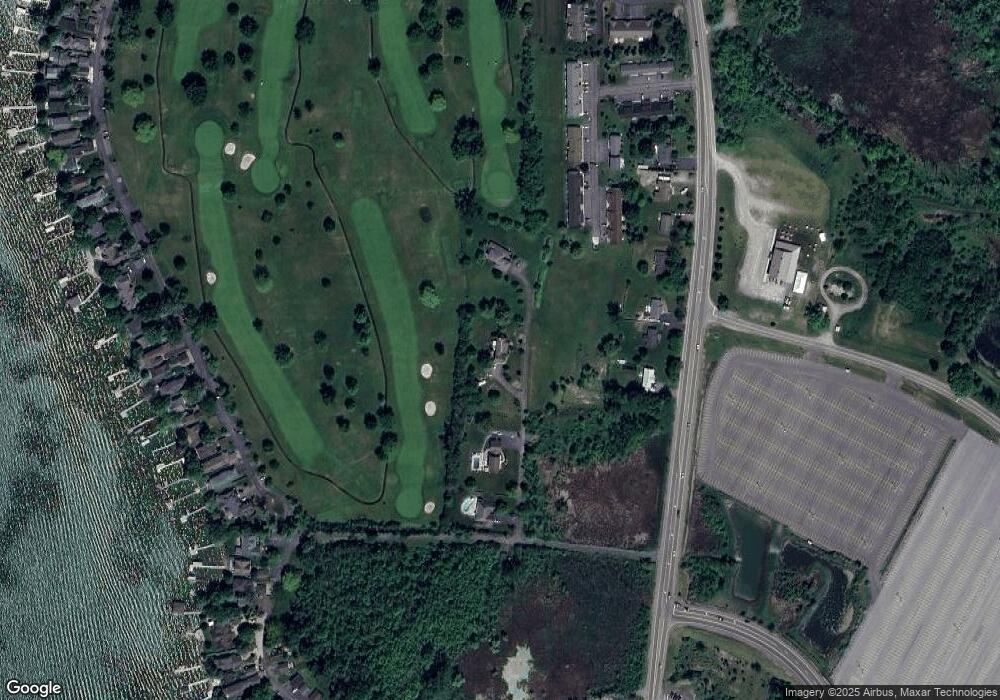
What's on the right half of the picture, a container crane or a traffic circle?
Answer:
traffic circle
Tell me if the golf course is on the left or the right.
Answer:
left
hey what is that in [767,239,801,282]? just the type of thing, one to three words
building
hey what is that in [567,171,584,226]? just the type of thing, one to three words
building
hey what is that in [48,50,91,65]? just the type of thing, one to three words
house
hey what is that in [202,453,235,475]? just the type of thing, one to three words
house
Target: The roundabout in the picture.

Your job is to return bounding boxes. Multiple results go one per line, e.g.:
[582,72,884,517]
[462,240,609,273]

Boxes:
[819,267,867,344]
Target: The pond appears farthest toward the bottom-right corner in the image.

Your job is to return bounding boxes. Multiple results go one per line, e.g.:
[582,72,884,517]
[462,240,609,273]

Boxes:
[782,544,848,647]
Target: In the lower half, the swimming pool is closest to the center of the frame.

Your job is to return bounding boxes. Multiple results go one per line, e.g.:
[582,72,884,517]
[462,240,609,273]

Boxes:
[472,452,486,471]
